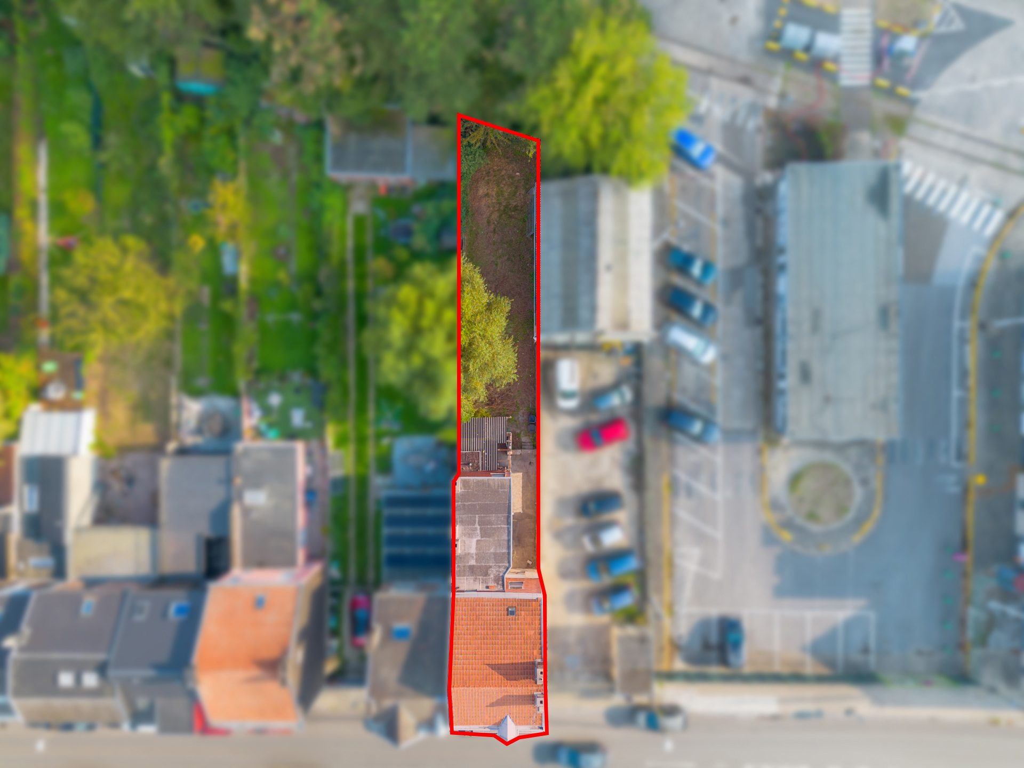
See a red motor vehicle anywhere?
Yes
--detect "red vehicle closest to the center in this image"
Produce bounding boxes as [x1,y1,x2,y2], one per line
[573,415,635,450]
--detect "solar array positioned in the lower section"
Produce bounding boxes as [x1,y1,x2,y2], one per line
[386,492,453,569]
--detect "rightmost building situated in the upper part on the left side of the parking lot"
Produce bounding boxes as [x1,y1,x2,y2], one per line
[534,175,653,342]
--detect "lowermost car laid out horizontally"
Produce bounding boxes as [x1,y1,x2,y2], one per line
[547,738,611,768]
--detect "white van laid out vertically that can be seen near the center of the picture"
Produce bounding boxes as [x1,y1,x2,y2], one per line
[554,354,582,412]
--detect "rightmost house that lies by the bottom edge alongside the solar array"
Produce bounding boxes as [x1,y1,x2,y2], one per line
[449,572,548,742]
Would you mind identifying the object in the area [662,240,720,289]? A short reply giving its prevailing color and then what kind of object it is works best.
blue car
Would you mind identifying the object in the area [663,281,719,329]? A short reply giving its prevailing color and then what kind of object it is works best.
blue car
